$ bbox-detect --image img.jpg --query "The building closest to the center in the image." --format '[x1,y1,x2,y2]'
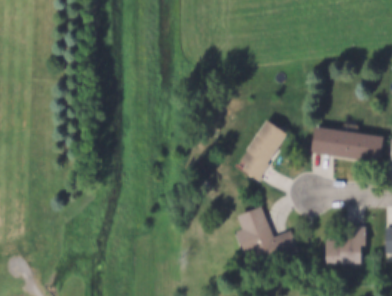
[237,120,288,179]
